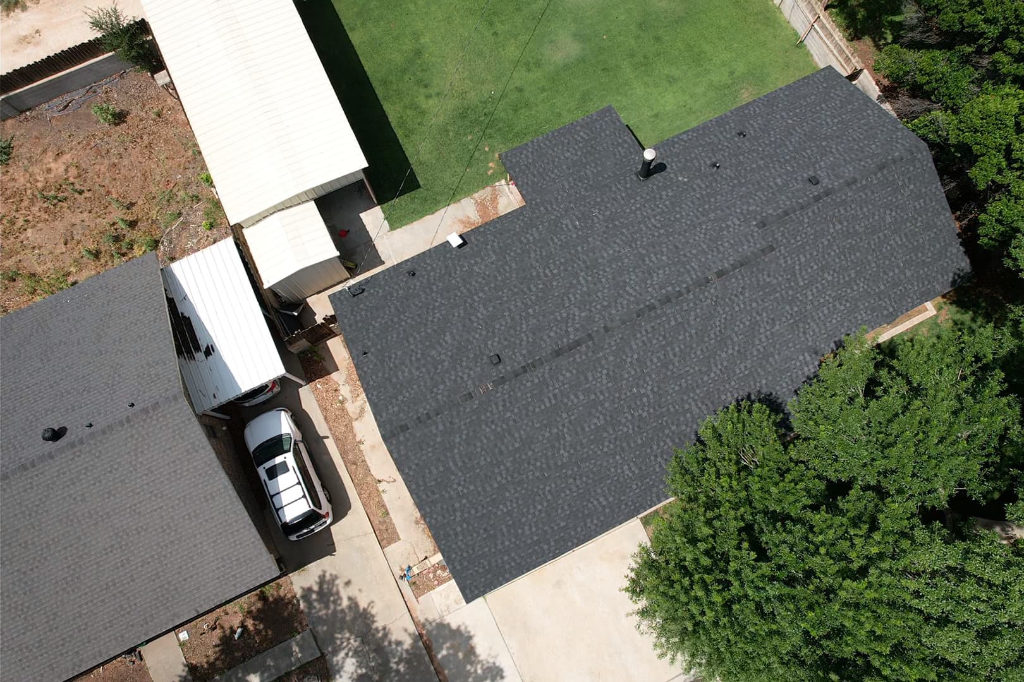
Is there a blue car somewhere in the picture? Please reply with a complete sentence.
No, the photo shows no blue car.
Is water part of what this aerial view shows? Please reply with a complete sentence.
No, the scene doesn't show any water.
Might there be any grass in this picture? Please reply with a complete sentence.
Yes, there's grass in this view.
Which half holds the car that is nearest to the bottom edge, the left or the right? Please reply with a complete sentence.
You can find the car that is nearest to the bottom edge on the left side of the picture.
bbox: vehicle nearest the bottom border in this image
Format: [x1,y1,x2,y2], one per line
[251,407,335,548]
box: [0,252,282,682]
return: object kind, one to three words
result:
house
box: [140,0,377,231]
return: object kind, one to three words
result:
building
